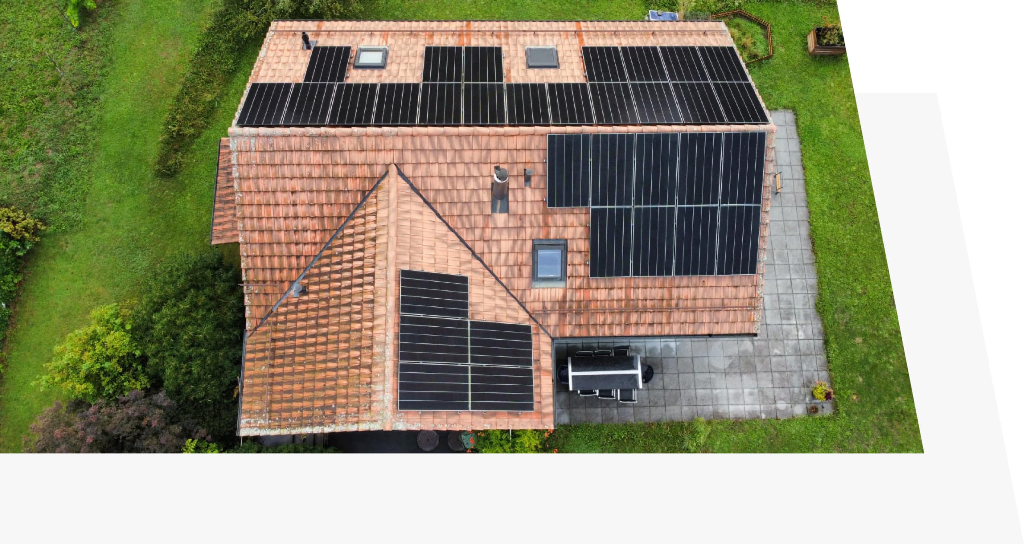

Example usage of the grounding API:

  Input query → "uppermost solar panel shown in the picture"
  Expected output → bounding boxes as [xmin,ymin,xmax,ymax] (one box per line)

[648,6,679,19]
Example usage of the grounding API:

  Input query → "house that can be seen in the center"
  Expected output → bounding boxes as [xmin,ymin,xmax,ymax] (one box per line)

[207,18,778,437]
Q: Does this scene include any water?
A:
No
